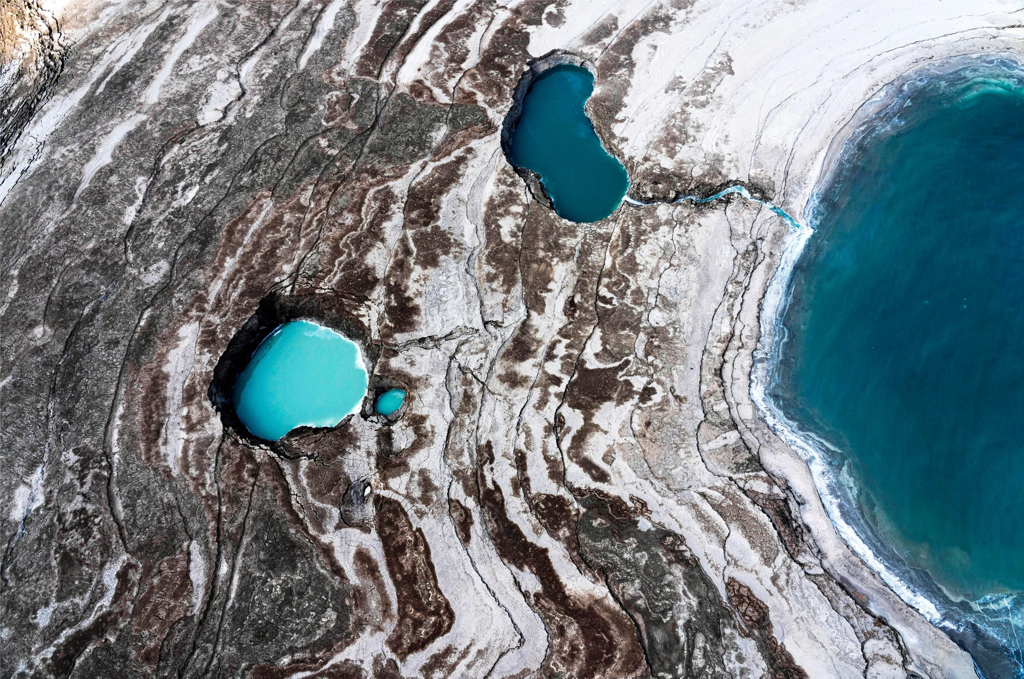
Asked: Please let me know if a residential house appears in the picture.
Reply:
No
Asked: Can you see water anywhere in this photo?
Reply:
Yes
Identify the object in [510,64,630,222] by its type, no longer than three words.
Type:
pond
